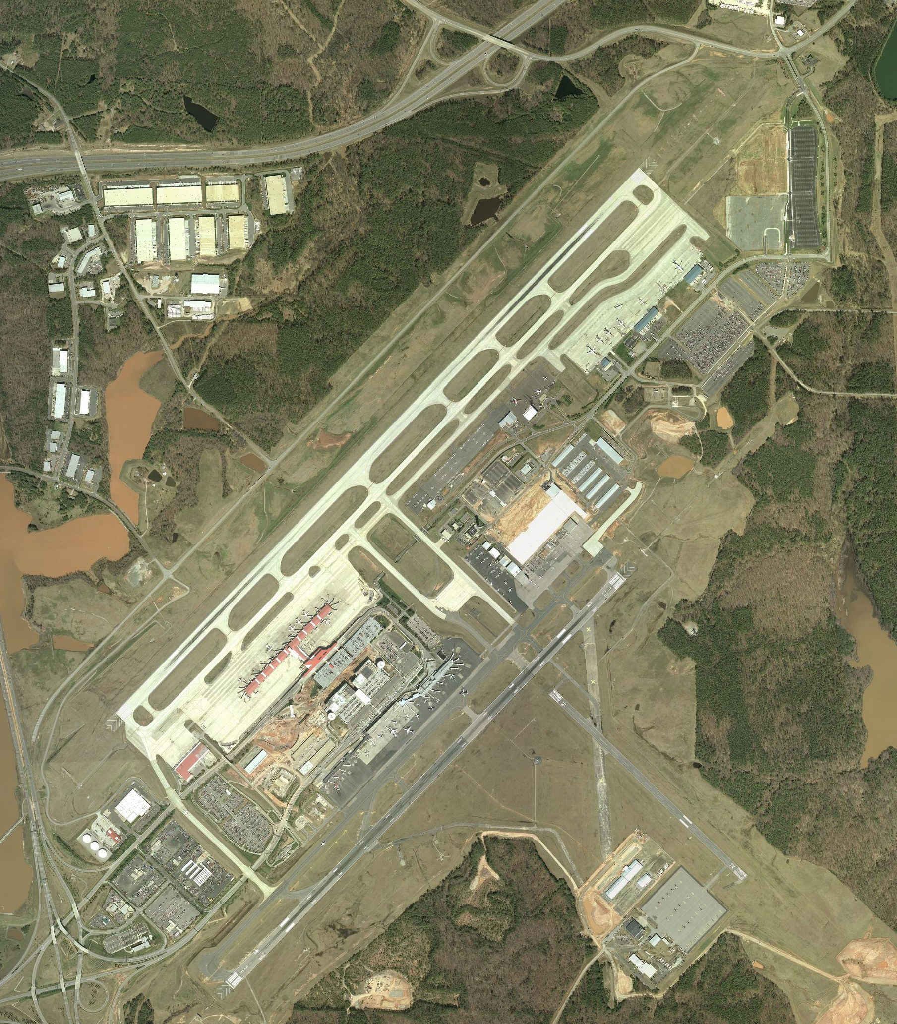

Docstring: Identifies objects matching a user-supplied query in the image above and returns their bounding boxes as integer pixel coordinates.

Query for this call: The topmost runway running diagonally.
[116,168,647,721]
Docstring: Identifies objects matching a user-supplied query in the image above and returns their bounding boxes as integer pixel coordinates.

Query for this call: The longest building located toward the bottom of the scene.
[237,594,339,702]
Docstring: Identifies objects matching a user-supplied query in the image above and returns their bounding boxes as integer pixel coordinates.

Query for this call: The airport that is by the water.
[107,163,747,998]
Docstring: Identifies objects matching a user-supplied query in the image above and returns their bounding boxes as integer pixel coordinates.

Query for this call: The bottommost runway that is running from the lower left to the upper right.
[226,572,626,989]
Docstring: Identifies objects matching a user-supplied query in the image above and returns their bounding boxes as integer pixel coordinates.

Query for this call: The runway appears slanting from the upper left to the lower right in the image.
[549,689,747,881]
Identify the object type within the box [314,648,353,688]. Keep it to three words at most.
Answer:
building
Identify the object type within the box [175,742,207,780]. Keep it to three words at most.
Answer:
hangar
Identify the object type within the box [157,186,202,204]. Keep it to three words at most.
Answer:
building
